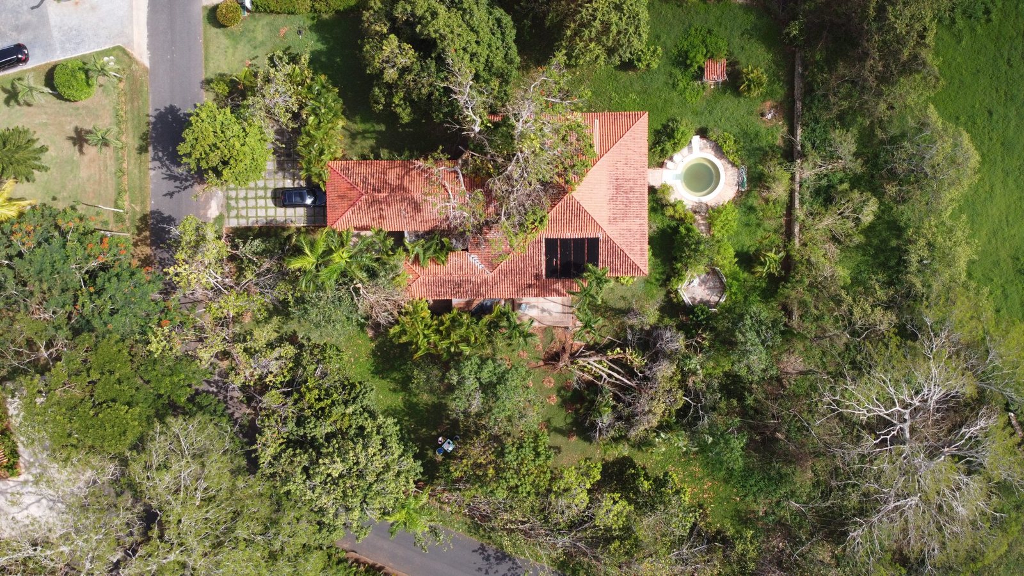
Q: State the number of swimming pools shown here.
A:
1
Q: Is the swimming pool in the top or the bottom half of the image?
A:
top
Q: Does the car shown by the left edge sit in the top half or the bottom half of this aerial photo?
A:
top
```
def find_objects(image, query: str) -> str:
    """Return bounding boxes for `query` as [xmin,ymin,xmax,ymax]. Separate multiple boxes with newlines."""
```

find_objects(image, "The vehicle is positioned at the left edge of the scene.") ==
[0,43,37,77]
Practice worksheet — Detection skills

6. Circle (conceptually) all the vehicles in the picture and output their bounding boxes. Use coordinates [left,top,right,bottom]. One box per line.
[0,43,37,77]
[282,187,328,211]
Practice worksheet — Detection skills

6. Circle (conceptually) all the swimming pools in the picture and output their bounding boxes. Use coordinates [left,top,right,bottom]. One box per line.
[662,133,727,205]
